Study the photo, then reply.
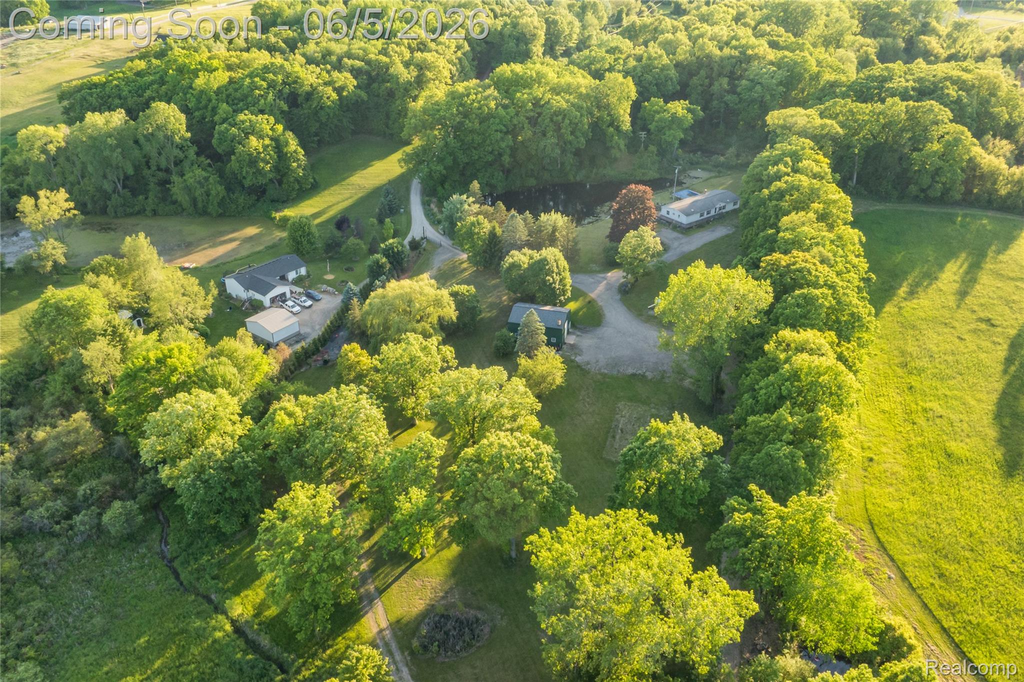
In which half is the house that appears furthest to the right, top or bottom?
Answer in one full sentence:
It is in the top half that the house that appears furthest to the right appears.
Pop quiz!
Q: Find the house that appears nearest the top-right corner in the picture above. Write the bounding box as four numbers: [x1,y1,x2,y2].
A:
[664,186,741,229]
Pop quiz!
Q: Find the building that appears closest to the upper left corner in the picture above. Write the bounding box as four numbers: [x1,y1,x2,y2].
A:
[62,13,113,30]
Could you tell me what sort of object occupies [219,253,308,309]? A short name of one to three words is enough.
house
